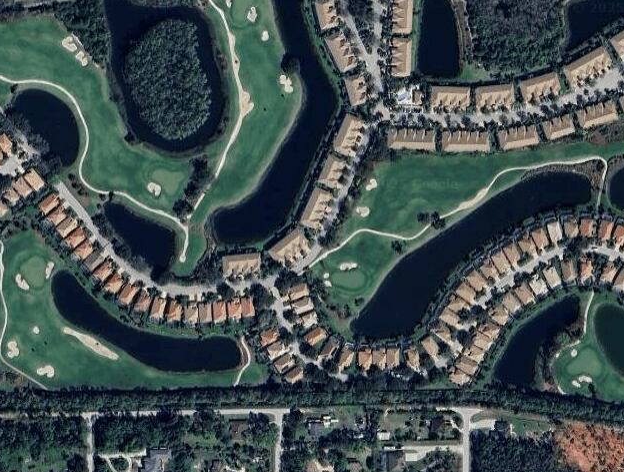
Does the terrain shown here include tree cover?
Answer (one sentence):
Yes, there is tree cover in the image.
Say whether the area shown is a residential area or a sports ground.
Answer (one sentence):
The area seen from above is a residential area.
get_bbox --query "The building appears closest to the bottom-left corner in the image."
[145,451,171,472]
